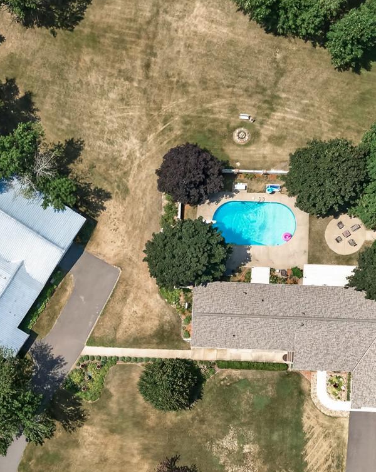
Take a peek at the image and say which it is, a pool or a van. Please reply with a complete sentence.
I can see a pool in this picture.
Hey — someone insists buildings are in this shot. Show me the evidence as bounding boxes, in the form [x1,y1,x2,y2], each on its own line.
[190,282,376,413]
[0,168,86,377]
